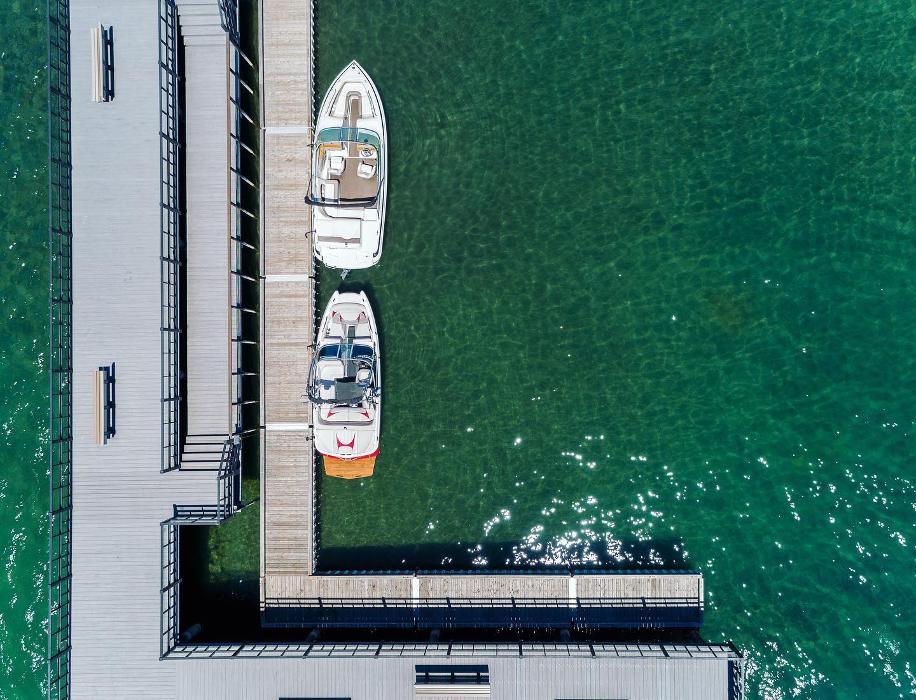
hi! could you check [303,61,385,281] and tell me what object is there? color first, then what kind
white boat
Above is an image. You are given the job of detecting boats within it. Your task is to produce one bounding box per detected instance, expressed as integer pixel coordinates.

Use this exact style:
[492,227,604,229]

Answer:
[303,61,385,281]
[301,290,382,478]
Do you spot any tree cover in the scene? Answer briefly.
No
